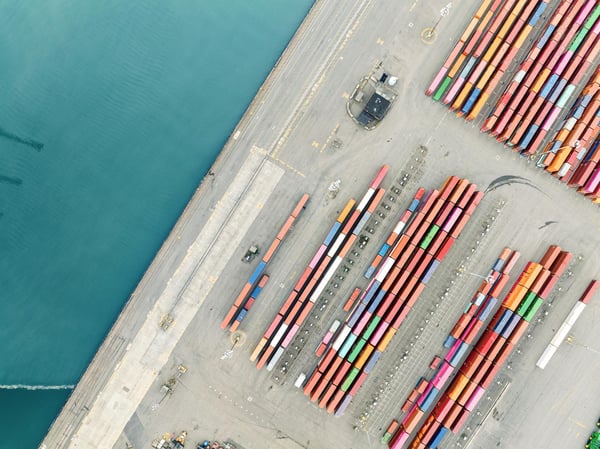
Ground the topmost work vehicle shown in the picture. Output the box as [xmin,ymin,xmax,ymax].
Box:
[241,246,260,265]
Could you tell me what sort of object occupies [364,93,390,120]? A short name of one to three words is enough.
building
